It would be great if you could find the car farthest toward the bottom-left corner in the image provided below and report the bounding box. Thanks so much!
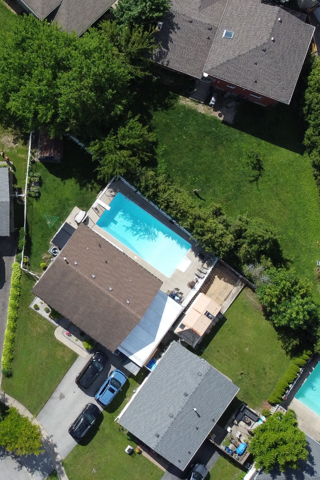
[68,401,101,444]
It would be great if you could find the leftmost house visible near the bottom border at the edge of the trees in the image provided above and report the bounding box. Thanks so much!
[116,340,240,471]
